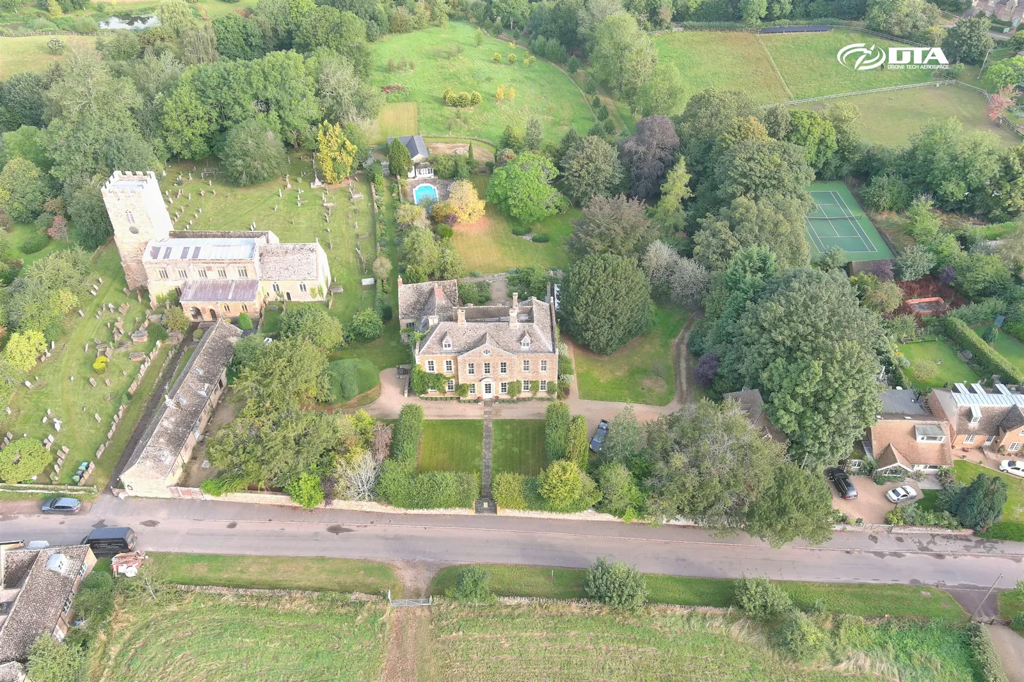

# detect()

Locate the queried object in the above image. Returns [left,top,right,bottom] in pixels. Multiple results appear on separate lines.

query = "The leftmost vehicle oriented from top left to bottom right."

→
[828,468,861,499]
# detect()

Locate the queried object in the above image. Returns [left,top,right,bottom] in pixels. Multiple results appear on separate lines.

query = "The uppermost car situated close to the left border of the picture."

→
[39,497,81,515]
